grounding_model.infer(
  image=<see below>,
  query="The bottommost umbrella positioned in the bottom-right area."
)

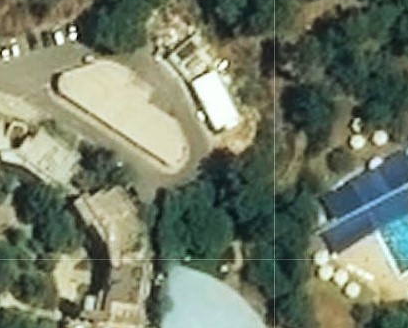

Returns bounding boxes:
[345,283,360,298]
